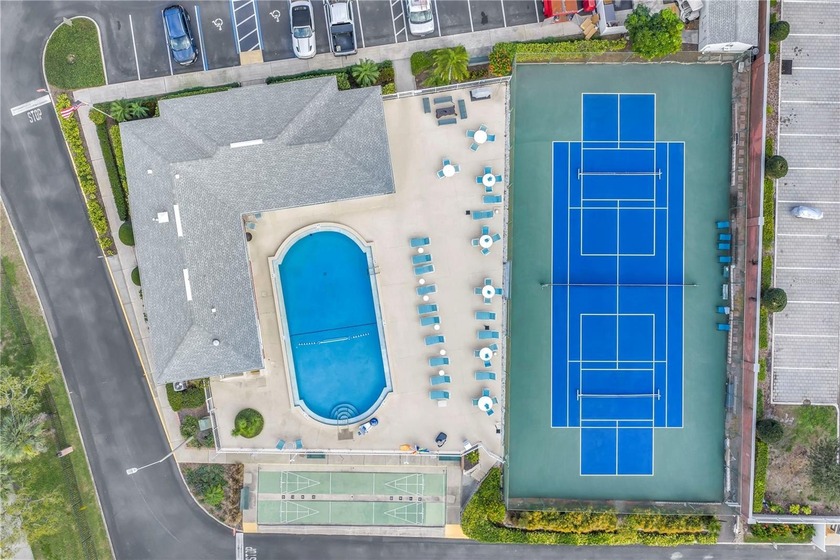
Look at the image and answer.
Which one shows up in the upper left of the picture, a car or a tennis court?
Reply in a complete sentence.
What appears in the upper left of the picture is a car.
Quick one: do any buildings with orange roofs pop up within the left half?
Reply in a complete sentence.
No, I see no building with an orange roof within the left half.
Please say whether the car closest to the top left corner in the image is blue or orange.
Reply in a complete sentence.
From above, the car closest to the top left corner appears blue.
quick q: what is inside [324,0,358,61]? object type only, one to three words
truck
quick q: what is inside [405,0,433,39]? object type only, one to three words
car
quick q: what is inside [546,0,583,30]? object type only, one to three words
truck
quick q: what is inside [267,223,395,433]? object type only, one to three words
swimming pool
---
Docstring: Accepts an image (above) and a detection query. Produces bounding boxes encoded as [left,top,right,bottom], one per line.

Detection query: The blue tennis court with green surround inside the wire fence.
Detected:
[503,60,736,501]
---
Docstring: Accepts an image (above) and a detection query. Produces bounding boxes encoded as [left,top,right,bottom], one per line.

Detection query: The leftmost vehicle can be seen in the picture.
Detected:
[165,4,199,67]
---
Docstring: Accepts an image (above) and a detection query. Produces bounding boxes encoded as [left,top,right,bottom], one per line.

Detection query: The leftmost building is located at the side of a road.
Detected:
[119,75,396,384]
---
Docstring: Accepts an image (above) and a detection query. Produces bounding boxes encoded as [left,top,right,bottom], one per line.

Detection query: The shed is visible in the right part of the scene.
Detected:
[700,0,760,57]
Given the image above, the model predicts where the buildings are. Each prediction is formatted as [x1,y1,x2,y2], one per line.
[700,0,760,57]
[119,75,396,384]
